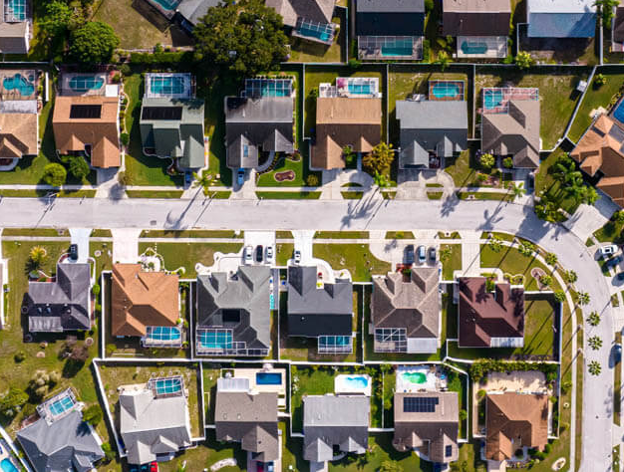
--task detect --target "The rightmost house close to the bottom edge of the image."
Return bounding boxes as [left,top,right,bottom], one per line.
[486,392,548,465]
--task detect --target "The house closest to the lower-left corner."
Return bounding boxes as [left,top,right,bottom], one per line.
[15,409,104,472]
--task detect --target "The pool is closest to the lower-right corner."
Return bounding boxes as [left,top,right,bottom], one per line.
[396,366,447,391]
